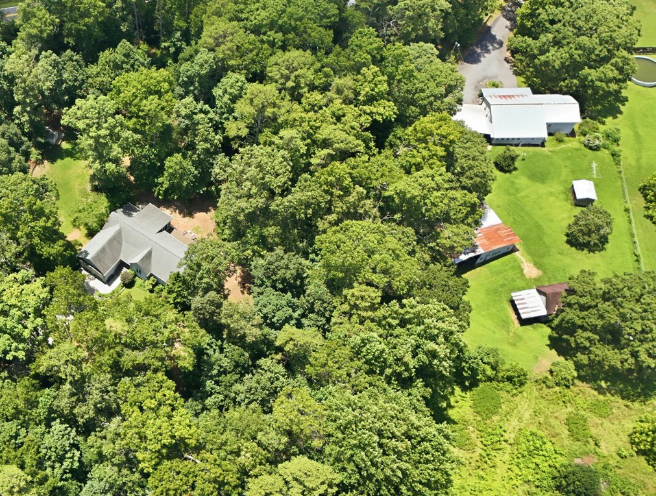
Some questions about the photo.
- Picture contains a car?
No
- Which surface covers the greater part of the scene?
trees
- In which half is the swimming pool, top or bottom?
top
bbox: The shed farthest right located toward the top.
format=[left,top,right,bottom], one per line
[570,179,597,206]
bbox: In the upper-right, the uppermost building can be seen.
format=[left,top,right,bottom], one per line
[454,87,582,150]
